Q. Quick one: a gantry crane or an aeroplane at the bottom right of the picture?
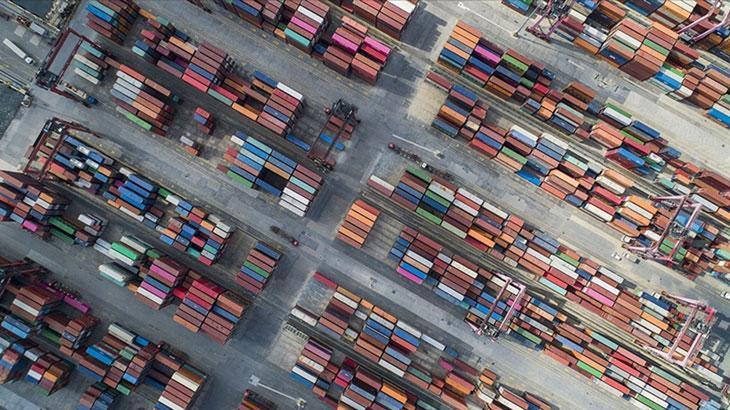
gantry crane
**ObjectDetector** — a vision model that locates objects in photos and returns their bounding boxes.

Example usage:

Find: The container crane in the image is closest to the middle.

[304,101,361,173]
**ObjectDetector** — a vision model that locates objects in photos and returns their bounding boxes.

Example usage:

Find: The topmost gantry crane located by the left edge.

[31,26,115,105]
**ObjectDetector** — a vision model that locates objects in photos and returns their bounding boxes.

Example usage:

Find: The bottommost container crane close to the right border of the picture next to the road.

[633,289,719,368]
